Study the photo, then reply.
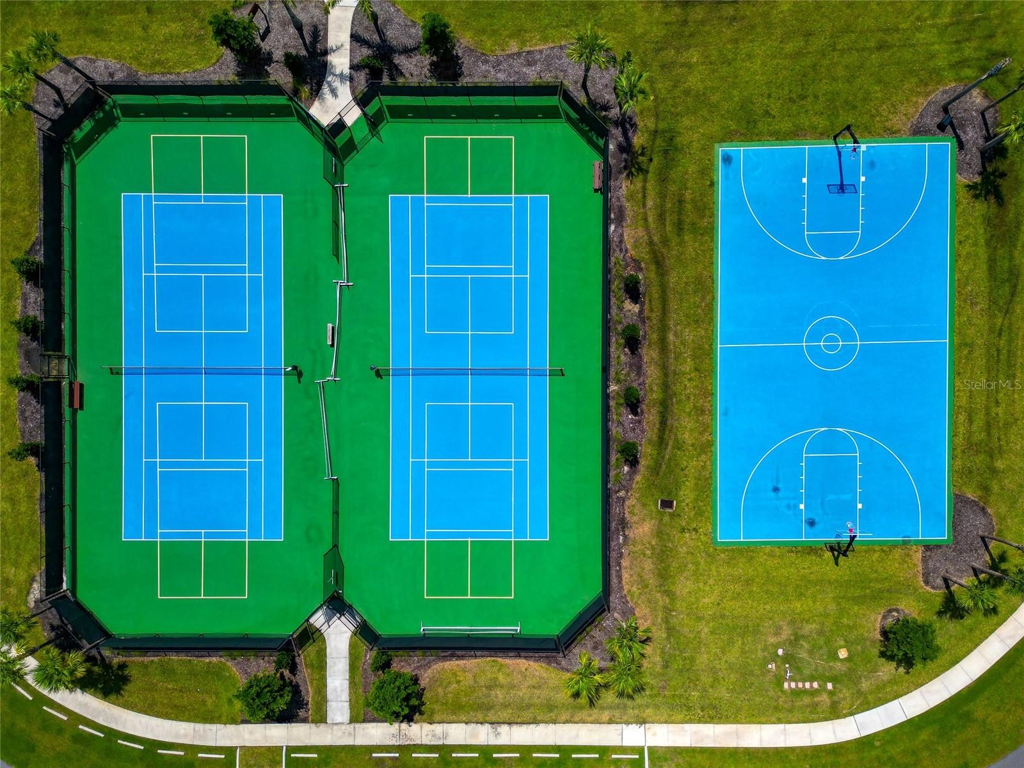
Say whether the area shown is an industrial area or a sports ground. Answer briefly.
sports ground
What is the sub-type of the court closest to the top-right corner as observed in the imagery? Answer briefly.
basketball court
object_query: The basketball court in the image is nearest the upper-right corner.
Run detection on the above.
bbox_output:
[713,137,956,546]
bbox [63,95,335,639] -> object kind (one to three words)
tennis court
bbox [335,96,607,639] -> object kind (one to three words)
tennis court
